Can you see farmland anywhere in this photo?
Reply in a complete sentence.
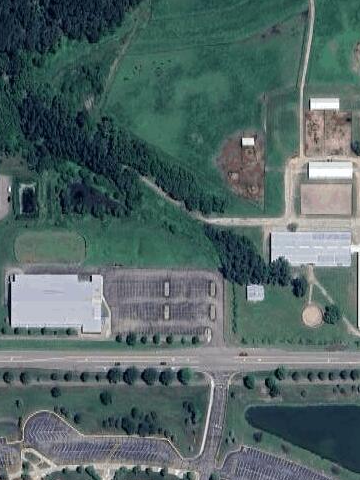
Yes, farmland can be seen from above here.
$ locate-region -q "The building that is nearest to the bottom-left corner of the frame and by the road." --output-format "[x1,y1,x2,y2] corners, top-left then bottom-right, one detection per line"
[11,274,104,336]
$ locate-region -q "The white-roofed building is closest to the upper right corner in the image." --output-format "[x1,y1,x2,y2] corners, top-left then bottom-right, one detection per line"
[310,99,340,112]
